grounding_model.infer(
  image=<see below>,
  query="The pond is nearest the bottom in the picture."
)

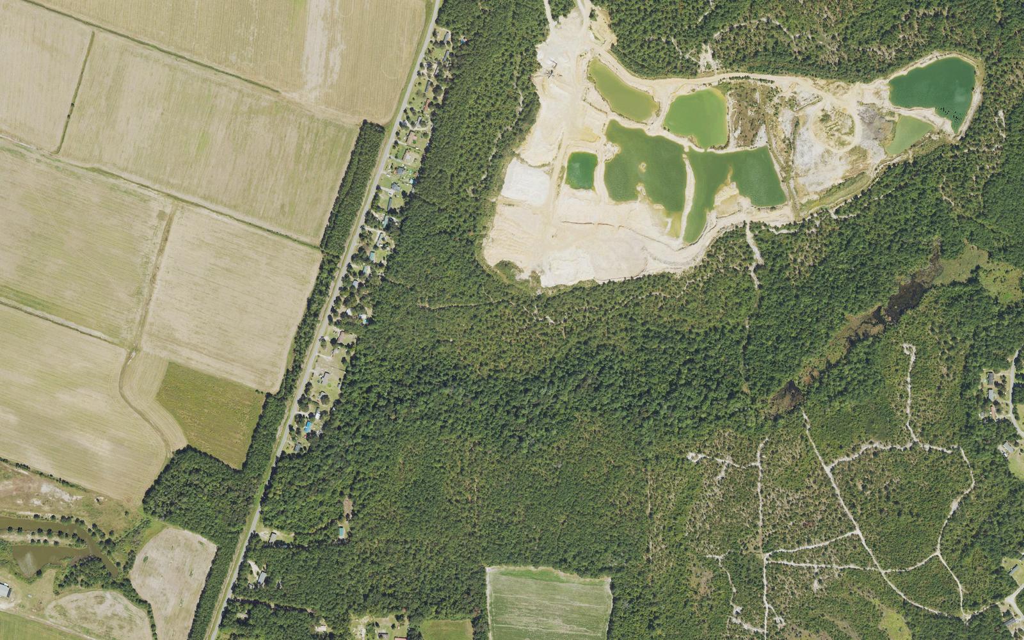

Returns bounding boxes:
[0,516,117,575]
